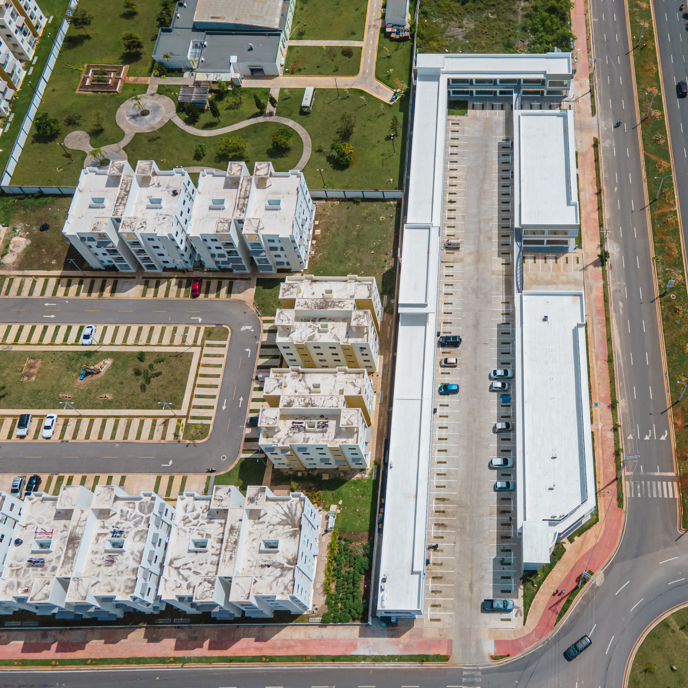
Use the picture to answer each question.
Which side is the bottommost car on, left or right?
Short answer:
right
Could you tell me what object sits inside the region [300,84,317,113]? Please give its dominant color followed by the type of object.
white vehicle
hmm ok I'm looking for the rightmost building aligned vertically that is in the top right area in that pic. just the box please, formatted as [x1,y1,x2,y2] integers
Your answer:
[512,108,581,244]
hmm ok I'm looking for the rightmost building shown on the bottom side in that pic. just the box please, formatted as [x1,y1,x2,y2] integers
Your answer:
[513,289,597,564]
